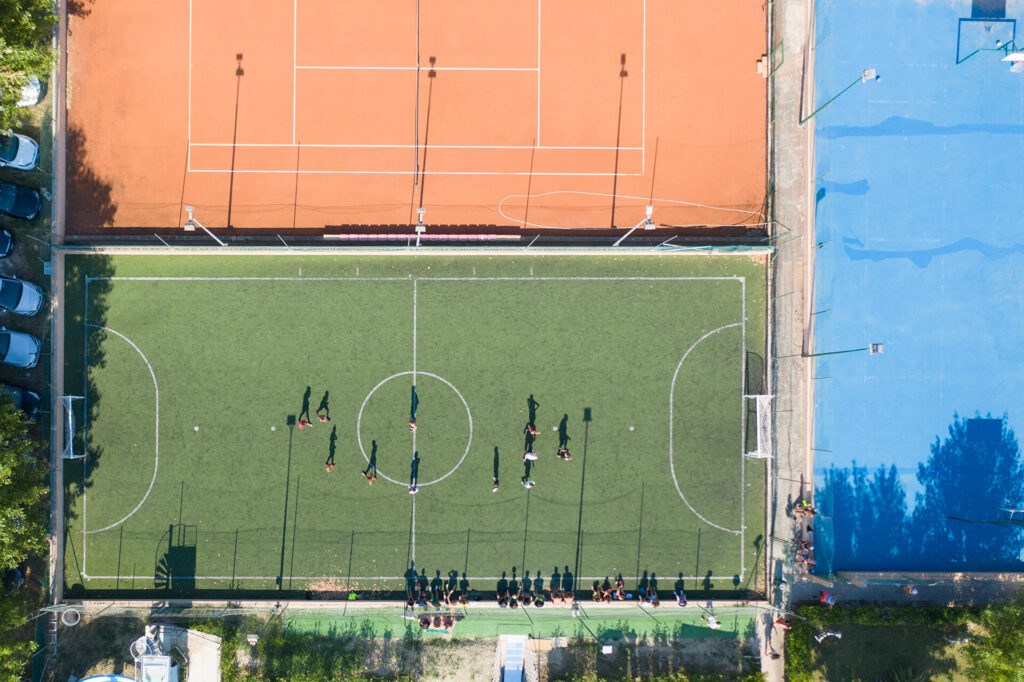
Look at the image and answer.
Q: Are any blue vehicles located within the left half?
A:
Yes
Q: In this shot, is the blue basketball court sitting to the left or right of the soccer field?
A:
to its right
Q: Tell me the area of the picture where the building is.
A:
bottom left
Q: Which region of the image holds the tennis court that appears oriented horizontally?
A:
top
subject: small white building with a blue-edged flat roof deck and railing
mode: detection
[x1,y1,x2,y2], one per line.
[136,645,181,682]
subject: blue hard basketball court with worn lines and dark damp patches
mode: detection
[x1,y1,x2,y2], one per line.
[818,0,1024,572]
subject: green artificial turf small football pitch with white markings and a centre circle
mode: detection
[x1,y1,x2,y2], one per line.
[65,255,766,598]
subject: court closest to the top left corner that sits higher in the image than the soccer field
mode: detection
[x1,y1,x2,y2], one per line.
[65,0,766,240]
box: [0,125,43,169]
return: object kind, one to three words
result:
car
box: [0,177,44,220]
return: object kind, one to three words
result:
car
